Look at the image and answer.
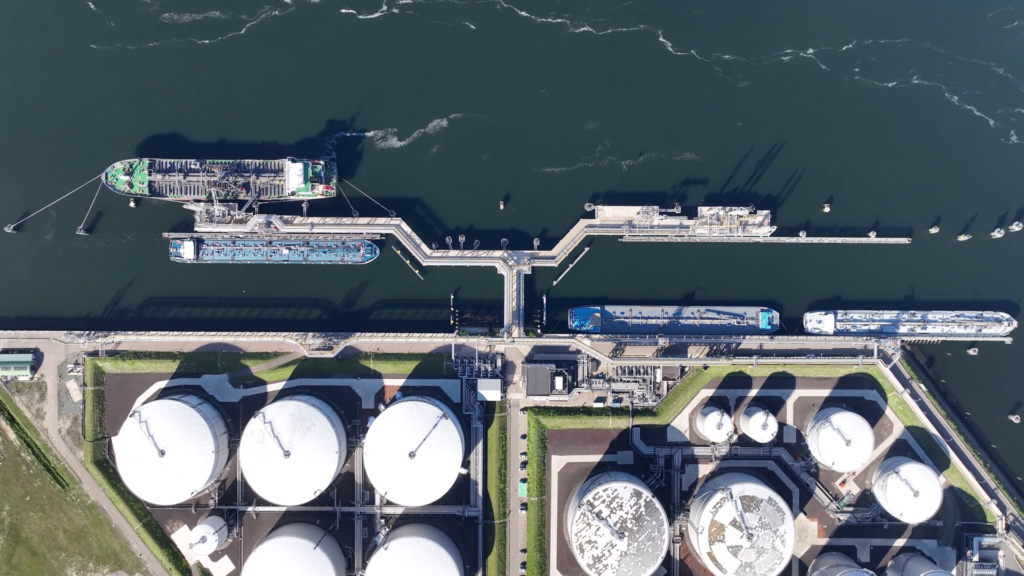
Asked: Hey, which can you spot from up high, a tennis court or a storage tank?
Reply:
storage tank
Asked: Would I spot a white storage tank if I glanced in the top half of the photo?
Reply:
No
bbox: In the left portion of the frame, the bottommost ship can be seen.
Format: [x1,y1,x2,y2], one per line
[170,239,380,264]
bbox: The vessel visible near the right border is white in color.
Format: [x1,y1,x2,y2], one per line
[802,310,1018,336]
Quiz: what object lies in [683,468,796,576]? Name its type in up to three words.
storage tank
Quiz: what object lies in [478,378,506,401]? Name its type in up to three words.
shed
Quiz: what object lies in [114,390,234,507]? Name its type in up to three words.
storage tank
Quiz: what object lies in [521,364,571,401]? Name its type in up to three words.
building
